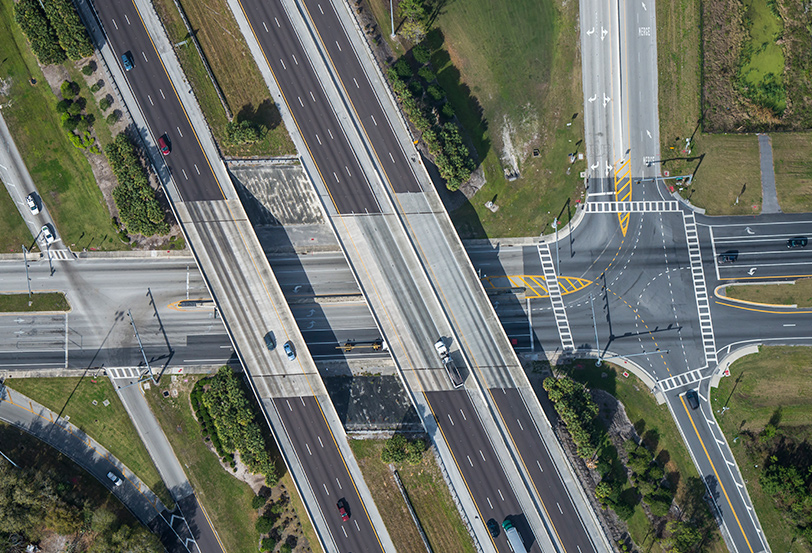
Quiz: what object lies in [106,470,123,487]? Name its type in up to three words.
car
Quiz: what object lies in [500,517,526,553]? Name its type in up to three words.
truck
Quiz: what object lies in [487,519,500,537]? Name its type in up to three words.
vehicle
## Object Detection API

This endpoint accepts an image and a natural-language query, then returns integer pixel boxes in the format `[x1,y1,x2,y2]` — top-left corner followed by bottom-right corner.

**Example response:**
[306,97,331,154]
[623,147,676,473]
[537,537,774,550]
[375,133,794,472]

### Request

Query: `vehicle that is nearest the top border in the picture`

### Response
[121,54,133,71]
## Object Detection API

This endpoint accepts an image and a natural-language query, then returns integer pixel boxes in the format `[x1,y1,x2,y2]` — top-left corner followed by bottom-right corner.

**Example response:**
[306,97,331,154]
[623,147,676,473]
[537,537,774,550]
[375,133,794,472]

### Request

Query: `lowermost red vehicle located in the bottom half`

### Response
[335,501,350,523]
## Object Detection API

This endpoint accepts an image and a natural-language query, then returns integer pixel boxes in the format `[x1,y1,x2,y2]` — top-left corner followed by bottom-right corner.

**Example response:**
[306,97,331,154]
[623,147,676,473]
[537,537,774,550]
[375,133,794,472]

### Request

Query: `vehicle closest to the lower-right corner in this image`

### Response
[686,390,699,409]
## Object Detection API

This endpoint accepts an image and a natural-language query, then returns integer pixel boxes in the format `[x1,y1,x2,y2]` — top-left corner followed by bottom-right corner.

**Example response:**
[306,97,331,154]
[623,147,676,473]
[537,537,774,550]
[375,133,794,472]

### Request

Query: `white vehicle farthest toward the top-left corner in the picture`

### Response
[25,195,40,216]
